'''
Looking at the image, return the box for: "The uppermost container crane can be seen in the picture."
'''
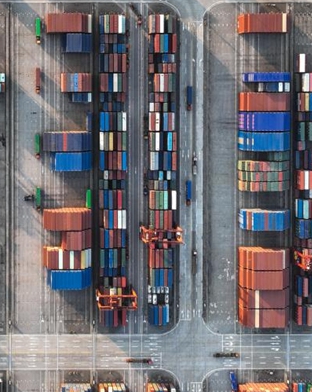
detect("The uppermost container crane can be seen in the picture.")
[138,220,185,244]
